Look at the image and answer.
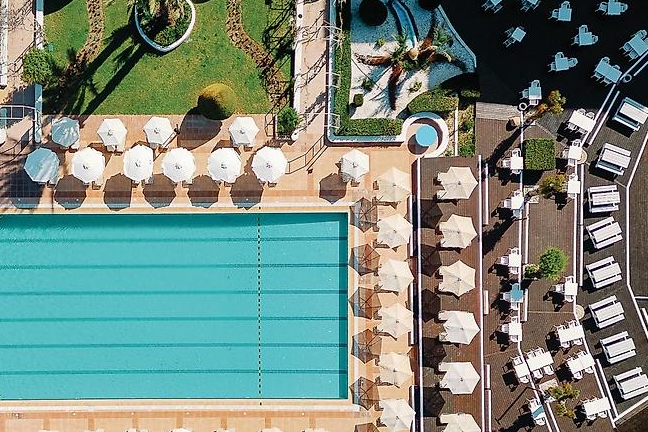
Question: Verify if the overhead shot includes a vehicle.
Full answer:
No, I can't see a single vehicle in this photo.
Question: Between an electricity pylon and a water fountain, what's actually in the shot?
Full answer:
This aerial view contains a water fountain.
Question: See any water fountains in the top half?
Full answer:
Yes, in the top half there is a water fountain.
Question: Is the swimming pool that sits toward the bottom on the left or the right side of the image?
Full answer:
It is on the left.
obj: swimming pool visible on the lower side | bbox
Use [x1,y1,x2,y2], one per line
[0,214,347,399]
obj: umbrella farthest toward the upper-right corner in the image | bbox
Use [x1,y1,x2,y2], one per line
[438,167,477,202]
